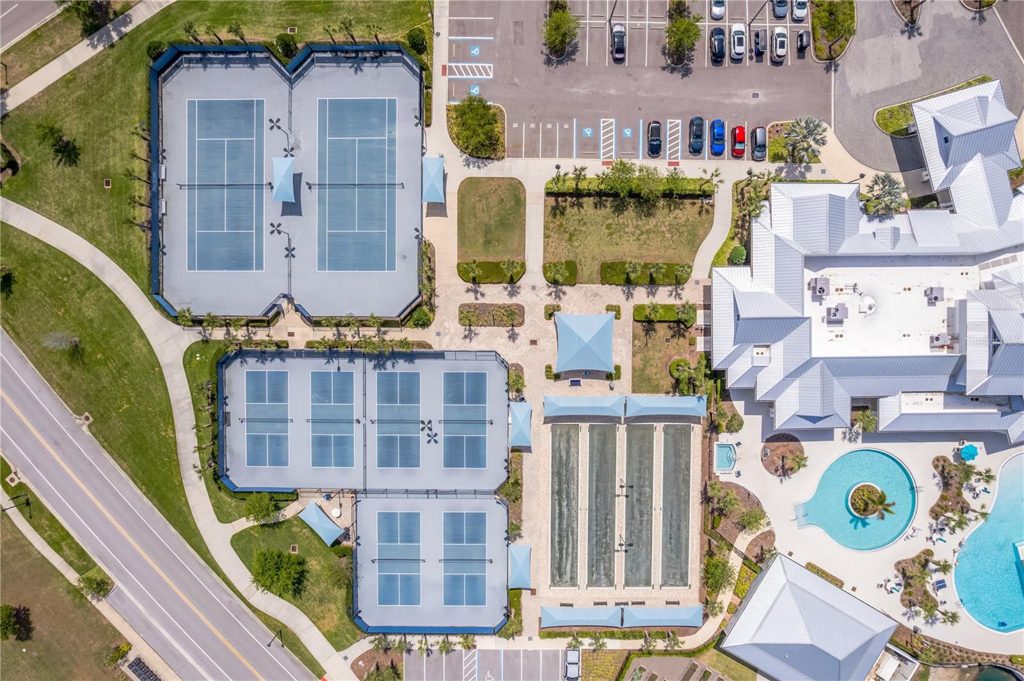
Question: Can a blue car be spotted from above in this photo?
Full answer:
Yes, there's a blue car here.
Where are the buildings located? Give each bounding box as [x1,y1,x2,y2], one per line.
[707,78,1024,445]
[721,552,899,681]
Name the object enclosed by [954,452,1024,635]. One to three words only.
swimming pool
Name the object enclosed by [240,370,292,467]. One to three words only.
sports court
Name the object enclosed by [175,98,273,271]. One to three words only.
tennis court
